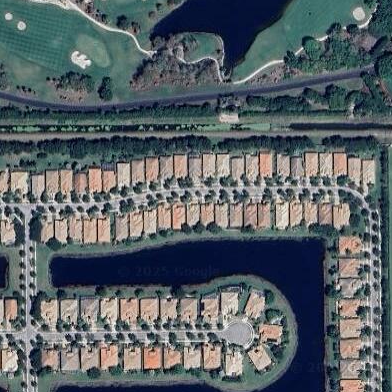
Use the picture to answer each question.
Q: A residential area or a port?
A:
residential area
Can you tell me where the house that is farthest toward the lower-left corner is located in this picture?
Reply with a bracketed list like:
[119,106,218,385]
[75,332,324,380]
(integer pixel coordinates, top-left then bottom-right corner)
[2,350,18,372]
